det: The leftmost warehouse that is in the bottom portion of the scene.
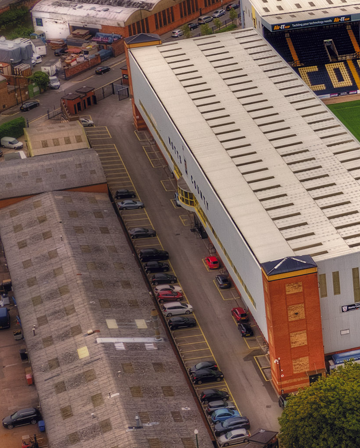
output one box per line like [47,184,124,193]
[0,181,213,448]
